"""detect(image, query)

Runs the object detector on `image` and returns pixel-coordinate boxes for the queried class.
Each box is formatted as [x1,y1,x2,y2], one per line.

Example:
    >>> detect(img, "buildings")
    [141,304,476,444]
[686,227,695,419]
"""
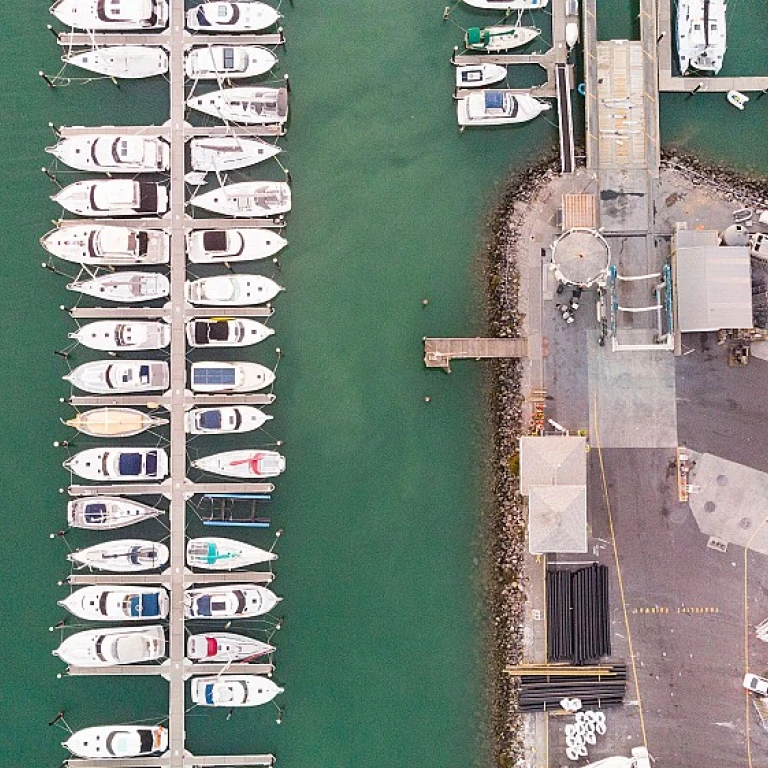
[520,432,588,554]
[664,230,753,332]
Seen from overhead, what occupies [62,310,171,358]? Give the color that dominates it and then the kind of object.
white boat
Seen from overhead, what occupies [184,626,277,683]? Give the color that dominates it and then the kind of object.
white boat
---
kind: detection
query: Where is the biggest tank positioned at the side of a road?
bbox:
[550,227,610,287]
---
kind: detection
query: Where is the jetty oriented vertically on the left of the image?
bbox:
[52,0,290,768]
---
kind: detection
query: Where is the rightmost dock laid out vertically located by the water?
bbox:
[639,0,662,169]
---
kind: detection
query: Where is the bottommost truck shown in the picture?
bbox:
[629,742,655,768]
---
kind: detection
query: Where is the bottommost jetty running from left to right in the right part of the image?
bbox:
[422,336,530,374]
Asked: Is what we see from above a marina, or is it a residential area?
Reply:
marina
